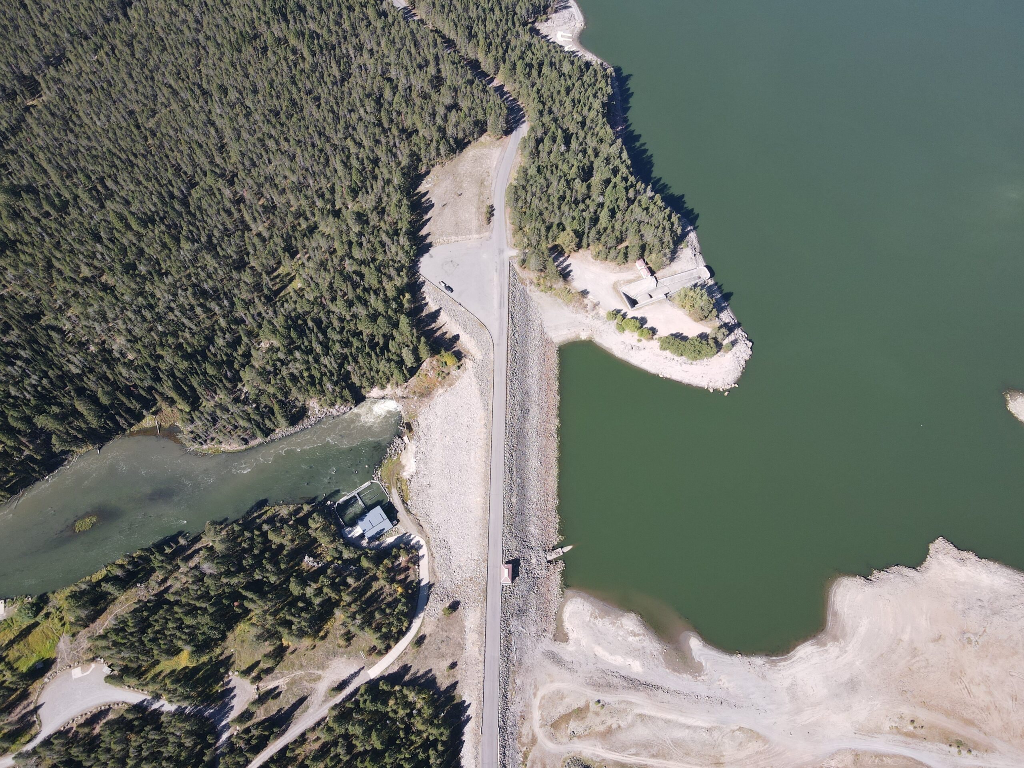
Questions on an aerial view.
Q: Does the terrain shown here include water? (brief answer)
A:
Yes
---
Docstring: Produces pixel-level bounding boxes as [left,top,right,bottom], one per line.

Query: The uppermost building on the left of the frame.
[357,507,392,543]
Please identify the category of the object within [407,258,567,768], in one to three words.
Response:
dam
